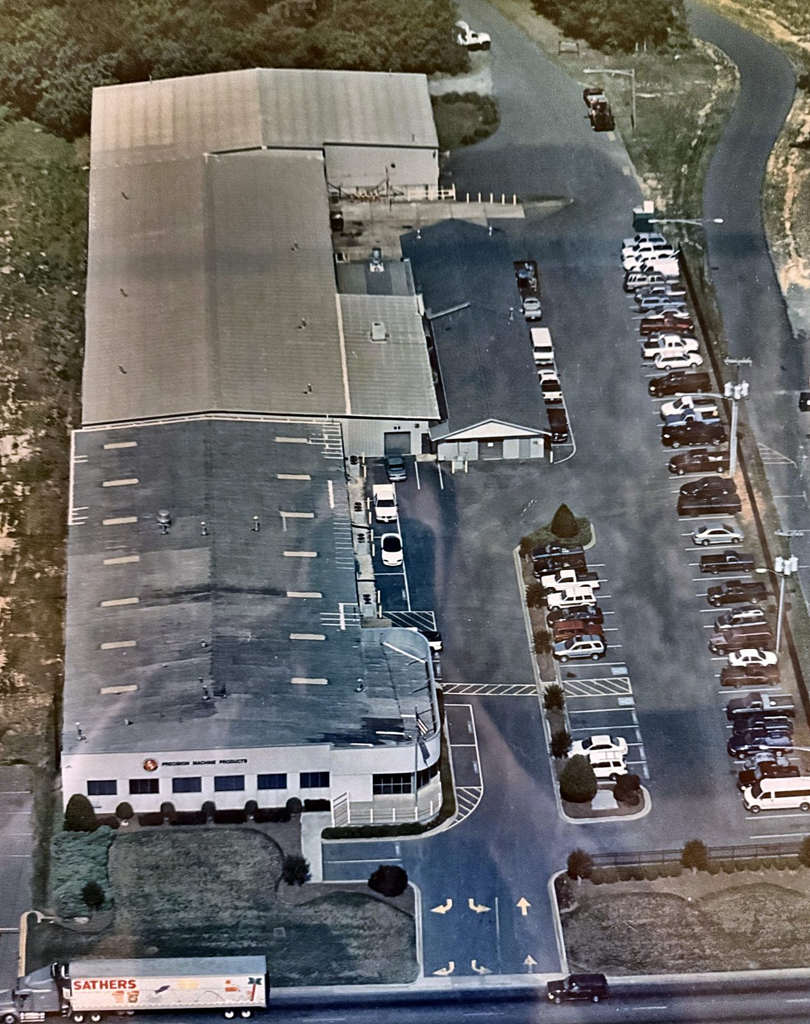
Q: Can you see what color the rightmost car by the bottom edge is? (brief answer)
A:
black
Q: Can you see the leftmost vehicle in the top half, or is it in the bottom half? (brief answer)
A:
bottom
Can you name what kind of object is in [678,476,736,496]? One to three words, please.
car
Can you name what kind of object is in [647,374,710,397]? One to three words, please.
truck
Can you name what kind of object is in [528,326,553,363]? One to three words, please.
vehicle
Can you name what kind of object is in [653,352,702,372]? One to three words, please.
car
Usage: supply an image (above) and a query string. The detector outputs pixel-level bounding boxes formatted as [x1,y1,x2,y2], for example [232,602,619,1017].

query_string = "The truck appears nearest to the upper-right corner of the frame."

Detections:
[581,93,612,130]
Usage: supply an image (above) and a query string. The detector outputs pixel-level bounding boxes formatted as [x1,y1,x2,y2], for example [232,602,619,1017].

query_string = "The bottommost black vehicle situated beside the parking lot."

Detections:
[546,968,608,1003]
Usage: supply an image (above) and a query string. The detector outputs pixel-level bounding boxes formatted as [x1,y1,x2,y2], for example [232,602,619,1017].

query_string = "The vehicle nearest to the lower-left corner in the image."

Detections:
[0,959,101,1018]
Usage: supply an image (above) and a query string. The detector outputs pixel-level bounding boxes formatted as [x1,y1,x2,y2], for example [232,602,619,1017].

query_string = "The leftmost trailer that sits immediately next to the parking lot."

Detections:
[61,954,266,1016]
